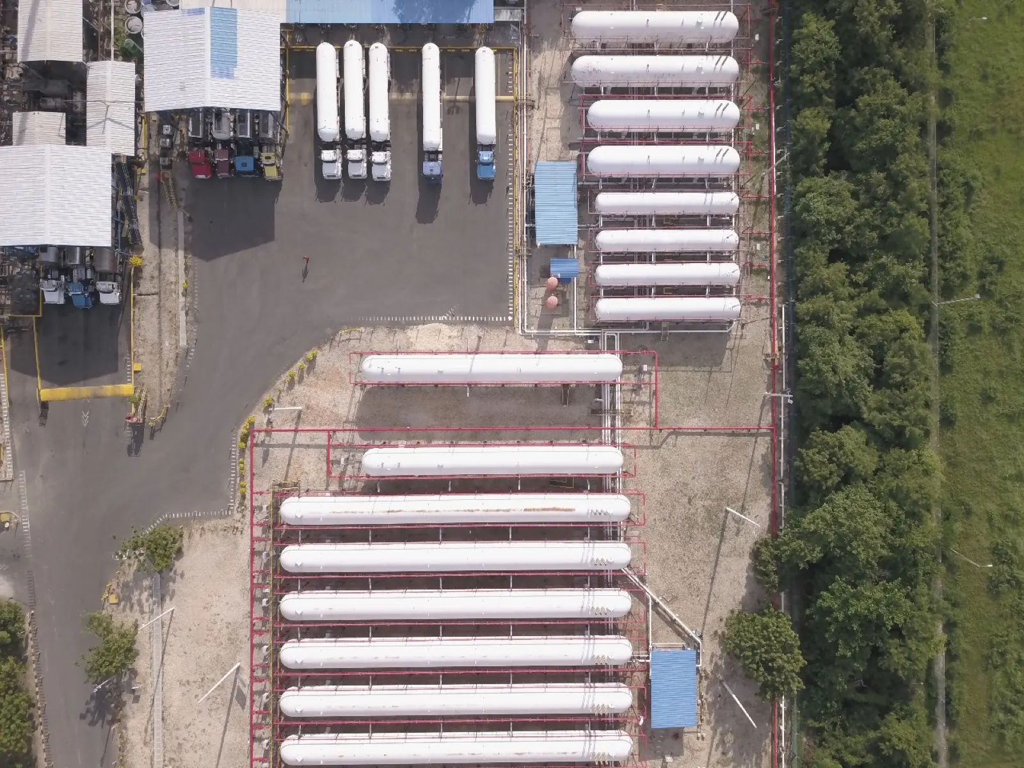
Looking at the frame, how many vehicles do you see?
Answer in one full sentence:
The count of vehicles comes to 12.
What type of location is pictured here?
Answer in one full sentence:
The picture captures an industrial area.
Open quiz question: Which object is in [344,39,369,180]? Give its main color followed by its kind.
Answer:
white truck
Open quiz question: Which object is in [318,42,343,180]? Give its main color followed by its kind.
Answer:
white truck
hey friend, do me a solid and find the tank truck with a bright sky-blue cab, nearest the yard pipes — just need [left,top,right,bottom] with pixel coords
[473,45,498,181]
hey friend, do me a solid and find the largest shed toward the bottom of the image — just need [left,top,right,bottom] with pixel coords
[648,644,696,728]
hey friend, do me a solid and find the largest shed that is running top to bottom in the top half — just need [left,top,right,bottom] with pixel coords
[535,161,577,248]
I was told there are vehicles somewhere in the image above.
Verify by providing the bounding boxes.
[473,45,498,181]
[255,102,282,181]
[230,109,257,178]
[85,176,121,305]
[368,43,394,182]
[318,42,343,180]
[344,39,369,180]
[35,247,66,305]
[62,247,93,310]
[185,100,213,179]
[419,42,444,192]
[209,69,236,180]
